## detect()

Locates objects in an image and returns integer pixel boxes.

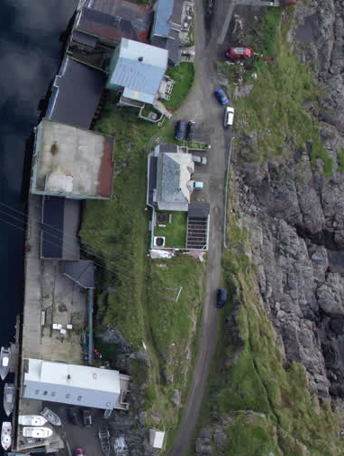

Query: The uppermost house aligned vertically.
[150,0,184,66]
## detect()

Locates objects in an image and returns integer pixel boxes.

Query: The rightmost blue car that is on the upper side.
[215,86,230,106]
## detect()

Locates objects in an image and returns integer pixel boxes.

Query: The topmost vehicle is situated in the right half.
[227,45,252,58]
